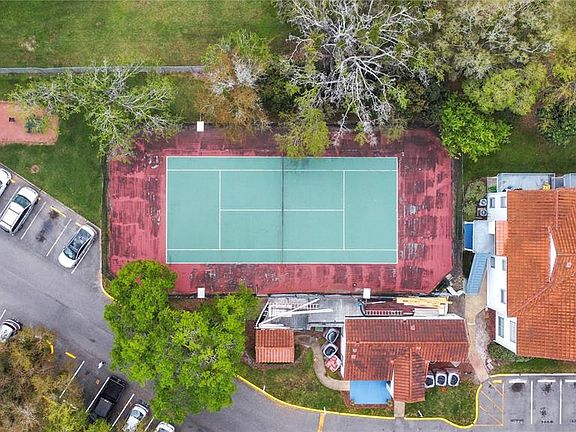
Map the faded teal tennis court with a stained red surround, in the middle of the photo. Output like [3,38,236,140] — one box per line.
[107,131,453,296]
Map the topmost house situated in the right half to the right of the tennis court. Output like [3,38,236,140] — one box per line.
[464,189,576,358]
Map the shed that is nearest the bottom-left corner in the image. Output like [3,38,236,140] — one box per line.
[255,326,294,364]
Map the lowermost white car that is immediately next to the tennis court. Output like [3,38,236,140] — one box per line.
[57,224,97,271]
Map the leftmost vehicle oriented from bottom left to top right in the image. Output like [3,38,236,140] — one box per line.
[0,185,38,237]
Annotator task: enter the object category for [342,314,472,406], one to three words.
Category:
building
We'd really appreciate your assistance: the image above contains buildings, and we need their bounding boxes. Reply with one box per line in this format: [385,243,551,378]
[464,189,576,358]
[255,326,294,364]
[342,314,472,406]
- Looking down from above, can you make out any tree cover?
Yes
